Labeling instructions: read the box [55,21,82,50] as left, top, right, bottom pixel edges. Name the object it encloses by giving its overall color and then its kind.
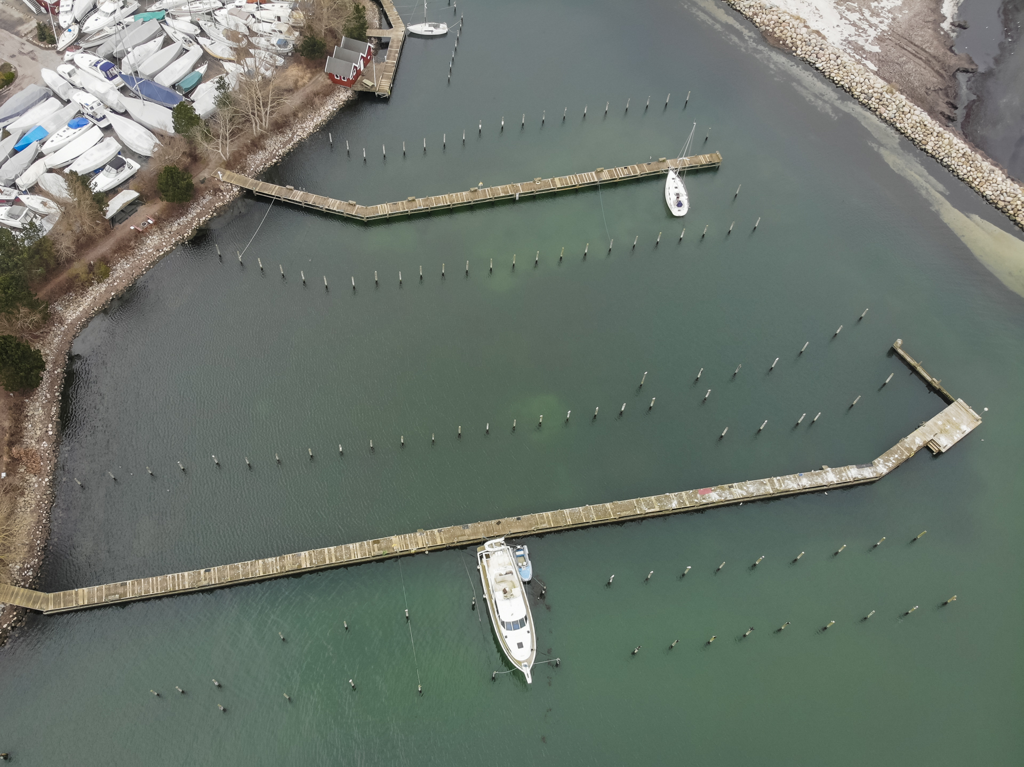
white boat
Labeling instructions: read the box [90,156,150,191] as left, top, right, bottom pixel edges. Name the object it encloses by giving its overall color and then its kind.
white boat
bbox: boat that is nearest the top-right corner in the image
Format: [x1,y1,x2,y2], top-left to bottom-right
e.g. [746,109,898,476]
[664,126,692,219]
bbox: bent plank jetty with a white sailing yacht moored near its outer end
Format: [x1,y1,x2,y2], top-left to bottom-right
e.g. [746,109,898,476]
[212,150,722,224]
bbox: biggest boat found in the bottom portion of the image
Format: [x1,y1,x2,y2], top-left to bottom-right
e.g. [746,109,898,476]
[474,536,538,683]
